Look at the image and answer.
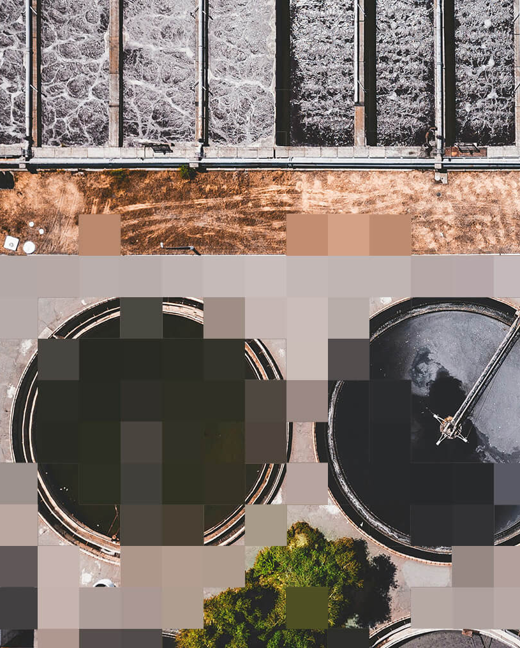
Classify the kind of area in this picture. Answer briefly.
industrial area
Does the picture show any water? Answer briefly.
Yes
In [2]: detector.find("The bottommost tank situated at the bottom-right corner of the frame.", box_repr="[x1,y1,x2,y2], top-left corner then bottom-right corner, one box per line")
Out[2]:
[354,606,520,648]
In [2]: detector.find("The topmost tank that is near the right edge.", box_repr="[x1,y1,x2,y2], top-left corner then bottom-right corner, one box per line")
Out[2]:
[314,291,520,568]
